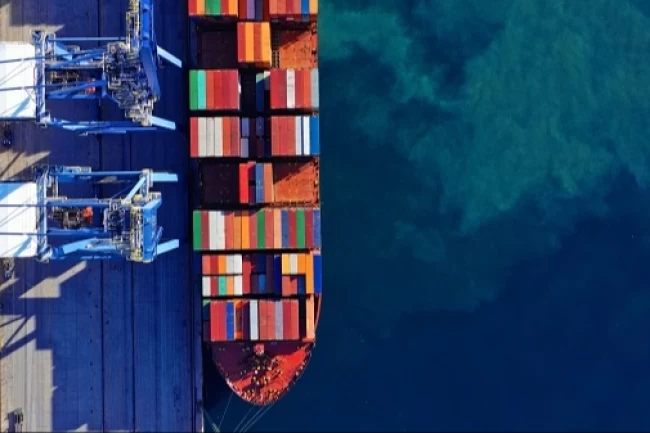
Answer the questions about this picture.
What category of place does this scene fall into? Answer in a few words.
port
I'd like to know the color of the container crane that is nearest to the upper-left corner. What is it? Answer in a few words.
blue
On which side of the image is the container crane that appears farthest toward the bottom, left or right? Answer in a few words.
left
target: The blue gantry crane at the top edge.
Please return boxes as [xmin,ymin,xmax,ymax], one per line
[0,0,190,143]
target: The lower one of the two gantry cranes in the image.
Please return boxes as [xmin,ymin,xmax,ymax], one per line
[0,164,192,264]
